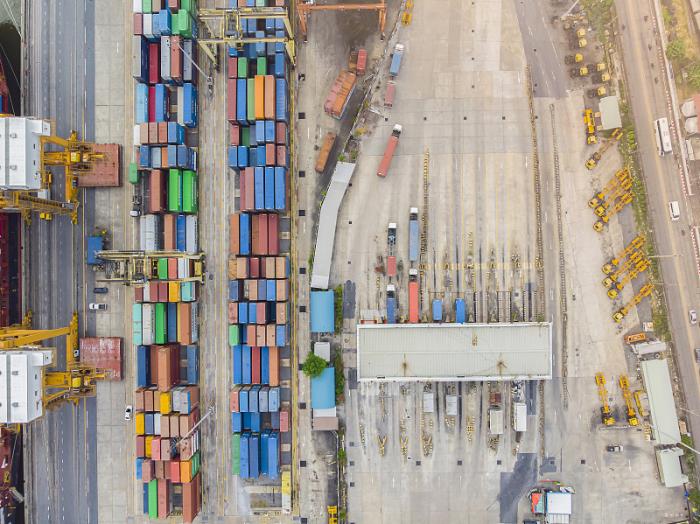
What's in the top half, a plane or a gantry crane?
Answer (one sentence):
The one visible in the top half is a gantry crane.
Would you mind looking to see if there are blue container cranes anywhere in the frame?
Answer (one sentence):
No, the frame has no blue container crane in it.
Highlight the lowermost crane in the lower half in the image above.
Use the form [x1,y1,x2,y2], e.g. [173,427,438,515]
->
[0,316,119,430]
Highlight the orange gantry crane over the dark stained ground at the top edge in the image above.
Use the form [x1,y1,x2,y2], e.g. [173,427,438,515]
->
[292,0,390,43]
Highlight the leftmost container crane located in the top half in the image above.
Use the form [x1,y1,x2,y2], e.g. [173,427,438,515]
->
[0,108,119,223]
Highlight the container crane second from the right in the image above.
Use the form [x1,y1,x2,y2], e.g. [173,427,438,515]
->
[198,4,296,70]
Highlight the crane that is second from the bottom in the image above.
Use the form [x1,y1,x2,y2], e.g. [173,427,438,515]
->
[96,247,205,290]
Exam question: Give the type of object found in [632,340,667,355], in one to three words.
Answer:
shed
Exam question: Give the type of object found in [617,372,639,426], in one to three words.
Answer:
work vehicle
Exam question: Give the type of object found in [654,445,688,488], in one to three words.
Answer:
building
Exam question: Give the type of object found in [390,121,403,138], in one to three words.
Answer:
vehicle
